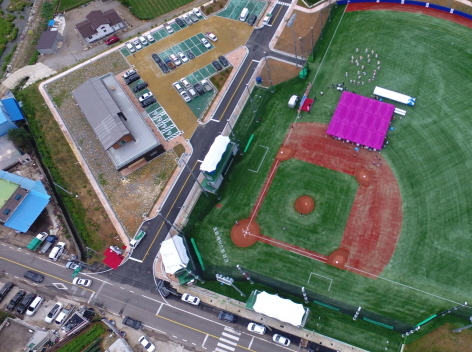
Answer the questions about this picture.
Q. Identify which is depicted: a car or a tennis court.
car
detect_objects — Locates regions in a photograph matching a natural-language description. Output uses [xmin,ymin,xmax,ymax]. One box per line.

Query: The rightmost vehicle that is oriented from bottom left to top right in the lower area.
[129,230,147,248]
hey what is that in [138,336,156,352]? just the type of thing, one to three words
car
